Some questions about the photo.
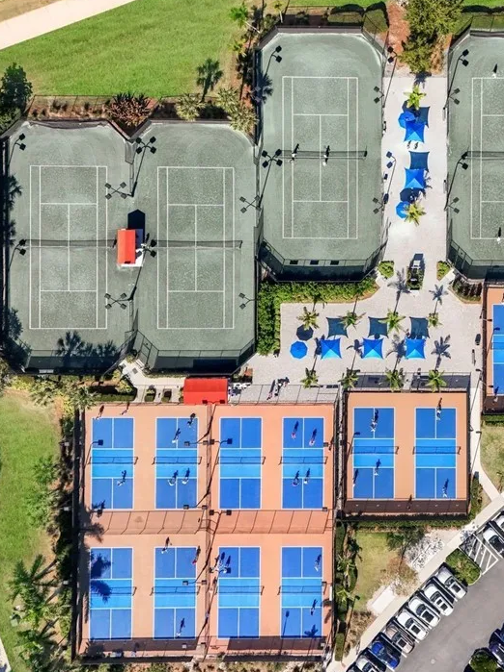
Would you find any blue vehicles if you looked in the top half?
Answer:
No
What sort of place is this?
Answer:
sports ground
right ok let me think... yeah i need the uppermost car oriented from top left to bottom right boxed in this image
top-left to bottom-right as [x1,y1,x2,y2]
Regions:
[483,528,504,558]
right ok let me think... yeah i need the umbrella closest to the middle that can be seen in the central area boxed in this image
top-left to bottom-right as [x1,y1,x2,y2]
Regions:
[289,340,308,358]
